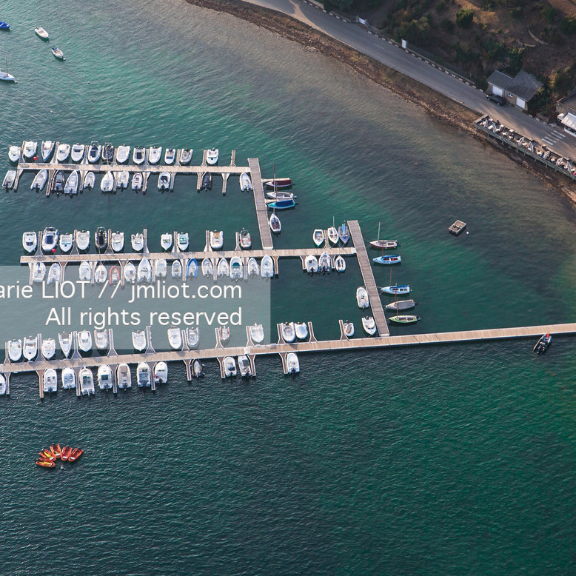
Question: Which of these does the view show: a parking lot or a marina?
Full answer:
What you see here is a marina.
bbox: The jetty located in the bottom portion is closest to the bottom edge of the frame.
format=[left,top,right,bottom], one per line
[0,319,576,399]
